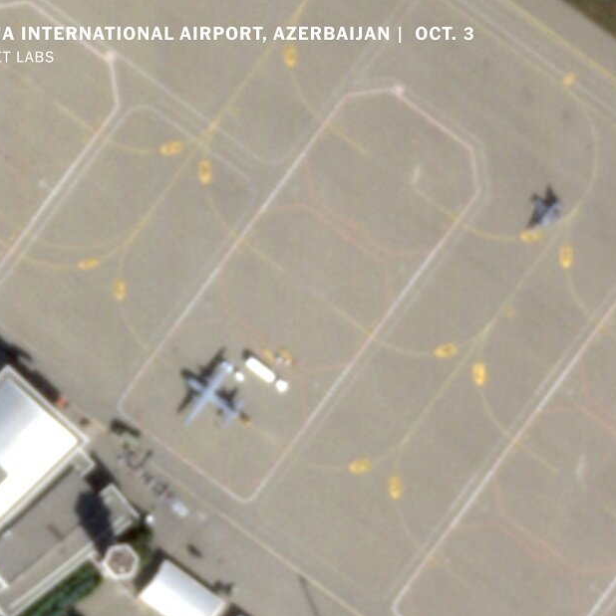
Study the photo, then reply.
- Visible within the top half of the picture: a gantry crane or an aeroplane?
aeroplane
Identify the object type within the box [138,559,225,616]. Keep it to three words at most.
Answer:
hangar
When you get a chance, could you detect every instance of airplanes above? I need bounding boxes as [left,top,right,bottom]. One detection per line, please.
[185,364,243,428]
[530,195,568,231]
